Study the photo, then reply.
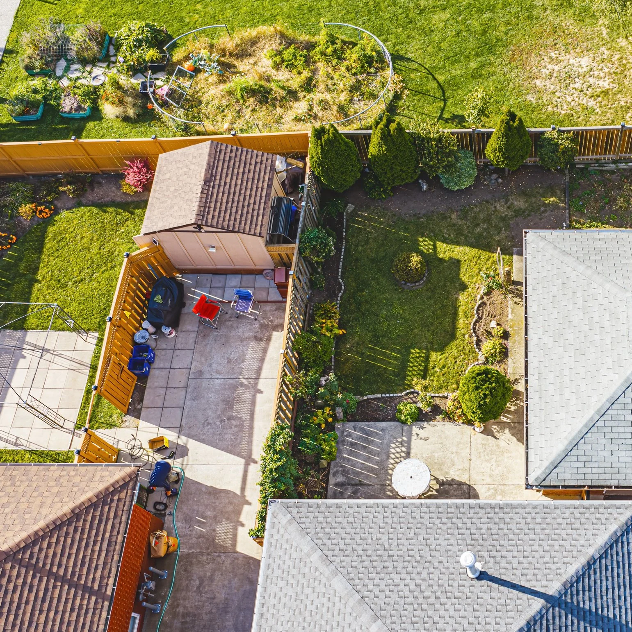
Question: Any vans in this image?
No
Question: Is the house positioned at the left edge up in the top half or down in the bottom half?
bottom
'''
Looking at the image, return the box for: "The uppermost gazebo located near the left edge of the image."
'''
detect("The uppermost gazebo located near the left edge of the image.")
[0,308,86,424]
